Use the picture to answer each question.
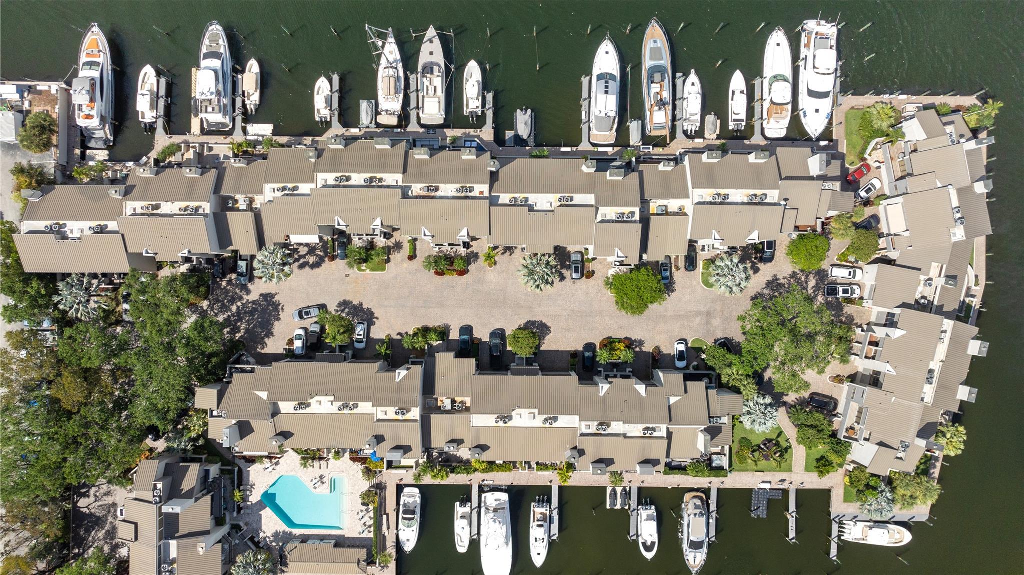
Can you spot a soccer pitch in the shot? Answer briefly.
No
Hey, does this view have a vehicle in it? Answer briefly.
Yes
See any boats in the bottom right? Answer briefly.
Yes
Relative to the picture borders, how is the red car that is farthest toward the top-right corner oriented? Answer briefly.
on a diagonal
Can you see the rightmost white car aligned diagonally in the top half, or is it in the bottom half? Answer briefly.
top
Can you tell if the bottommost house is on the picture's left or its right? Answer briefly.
left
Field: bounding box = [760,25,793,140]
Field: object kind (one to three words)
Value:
boat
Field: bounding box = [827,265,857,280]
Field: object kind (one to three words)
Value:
car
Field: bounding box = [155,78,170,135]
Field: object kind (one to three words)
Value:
pier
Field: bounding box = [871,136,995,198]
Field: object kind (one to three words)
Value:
house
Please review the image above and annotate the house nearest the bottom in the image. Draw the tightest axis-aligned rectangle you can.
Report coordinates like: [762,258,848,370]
[285,533,371,575]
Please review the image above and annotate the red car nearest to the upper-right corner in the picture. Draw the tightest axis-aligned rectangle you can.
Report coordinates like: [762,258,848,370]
[844,161,872,186]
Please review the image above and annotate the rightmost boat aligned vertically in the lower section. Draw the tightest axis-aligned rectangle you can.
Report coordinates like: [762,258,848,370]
[682,490,708,575]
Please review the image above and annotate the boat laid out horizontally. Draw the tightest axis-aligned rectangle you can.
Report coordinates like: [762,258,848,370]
[838,522,910,547]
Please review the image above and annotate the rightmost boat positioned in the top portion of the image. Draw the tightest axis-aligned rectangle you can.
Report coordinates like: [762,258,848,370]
[798,4,843,139]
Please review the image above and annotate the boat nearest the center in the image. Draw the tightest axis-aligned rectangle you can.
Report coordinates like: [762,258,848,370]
[515,106,534,140]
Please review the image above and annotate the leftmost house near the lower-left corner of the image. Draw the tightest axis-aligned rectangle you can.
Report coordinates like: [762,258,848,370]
[117,450,240,575]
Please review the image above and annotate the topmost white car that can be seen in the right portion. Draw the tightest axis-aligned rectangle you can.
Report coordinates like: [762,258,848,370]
[855,177,883,202]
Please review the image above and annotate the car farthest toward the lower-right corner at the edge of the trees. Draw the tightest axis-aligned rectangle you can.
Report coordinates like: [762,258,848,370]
[807,394,837,410]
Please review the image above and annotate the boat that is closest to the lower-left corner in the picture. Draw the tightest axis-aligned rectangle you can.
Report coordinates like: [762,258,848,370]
[399,486,422,555]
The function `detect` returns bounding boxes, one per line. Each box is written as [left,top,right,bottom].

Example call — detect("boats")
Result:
[640,16,673,149]
[727,71,746,140]
[530,491,550,567]
[57,20,117,147]
[246,59,263,116]
[194,19,233,132]
[141,66,160,133]
[681,67,701,139]
[316,77,332,132]
[682,490,708,575]
[455,490,472,551]
[638,493,657,559]
[479,489,512,575]
[515,106,534,140]
[363,28,404,128]
[589,32,620,146]
[760,25,793,140]
[798,4,843,139]
[399,486,422,555]
[464,61,482,127]
[838,522,910,547]
[629,121,642,148]
[703,114,718,139]
[361,100,375,130]
[418,25,446,124]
